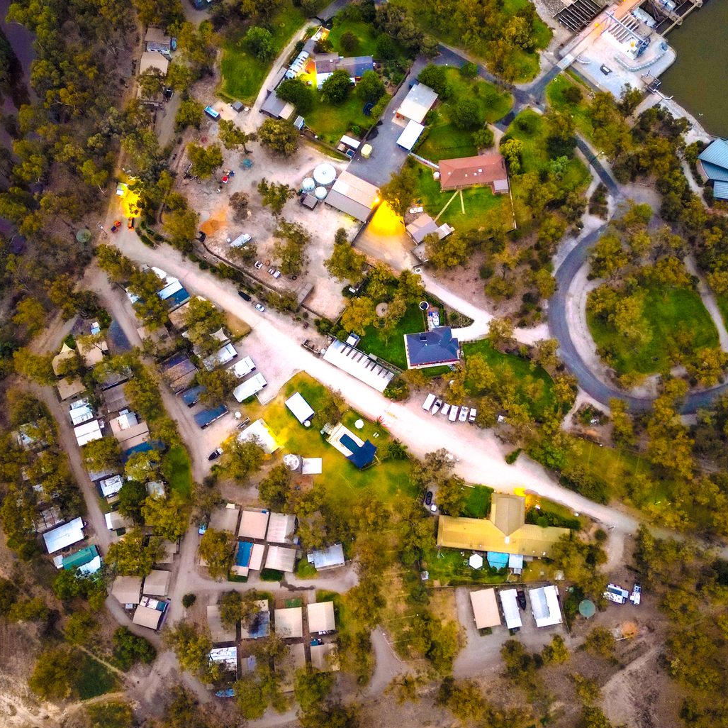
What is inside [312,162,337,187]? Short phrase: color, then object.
white water tank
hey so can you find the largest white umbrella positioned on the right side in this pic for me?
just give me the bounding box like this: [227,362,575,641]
[469,553,482,567]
